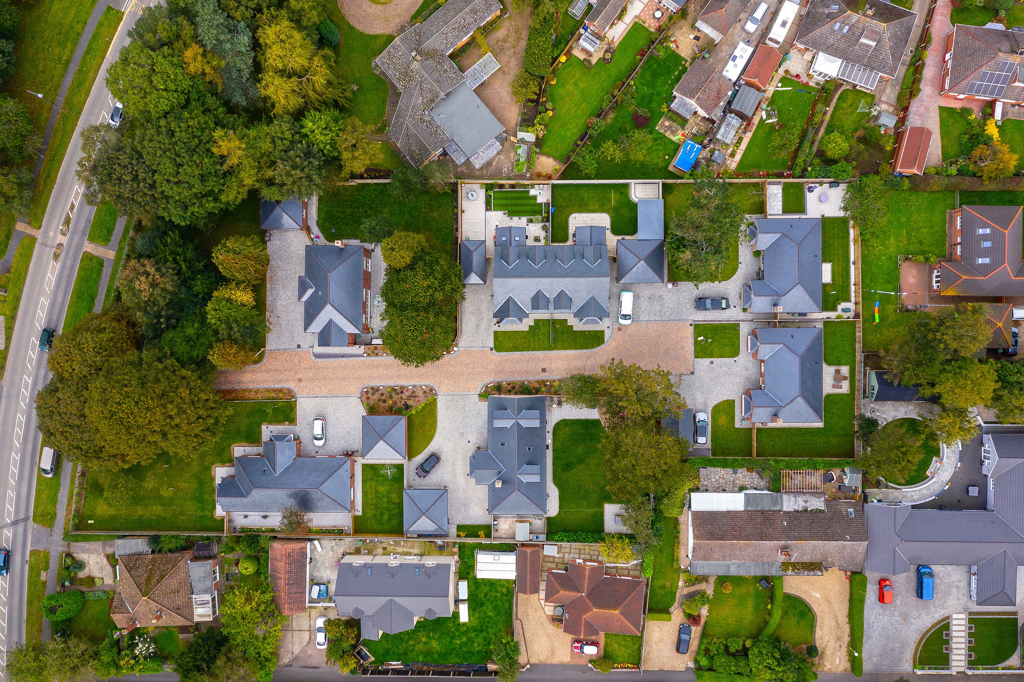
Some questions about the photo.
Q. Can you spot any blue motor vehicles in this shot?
Yes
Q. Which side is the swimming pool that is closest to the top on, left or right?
right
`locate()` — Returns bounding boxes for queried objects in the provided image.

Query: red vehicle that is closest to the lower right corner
[878,577,894,604]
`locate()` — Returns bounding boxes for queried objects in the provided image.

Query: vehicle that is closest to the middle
[617,291,634,325]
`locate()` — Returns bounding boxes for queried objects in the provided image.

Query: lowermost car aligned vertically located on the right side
[676,623,693,655]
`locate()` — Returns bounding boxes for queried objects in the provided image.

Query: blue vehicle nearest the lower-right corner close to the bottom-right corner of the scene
[915,566,934,601]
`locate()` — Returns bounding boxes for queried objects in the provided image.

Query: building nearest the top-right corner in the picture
[940,22,1024,105]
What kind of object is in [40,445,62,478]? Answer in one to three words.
vehicle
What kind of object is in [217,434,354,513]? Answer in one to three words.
house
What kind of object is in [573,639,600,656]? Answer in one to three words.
car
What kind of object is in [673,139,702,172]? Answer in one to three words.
swimming pool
